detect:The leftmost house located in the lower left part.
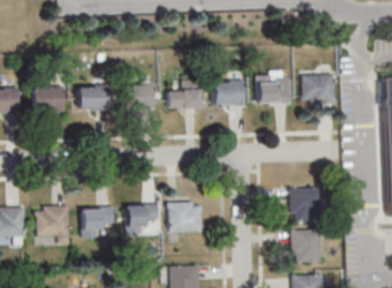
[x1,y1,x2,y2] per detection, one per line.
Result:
[0,206,26,246]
